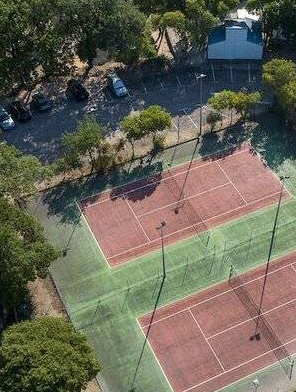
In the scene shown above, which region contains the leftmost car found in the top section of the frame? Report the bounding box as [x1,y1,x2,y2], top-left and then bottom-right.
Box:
[0,106,15,131]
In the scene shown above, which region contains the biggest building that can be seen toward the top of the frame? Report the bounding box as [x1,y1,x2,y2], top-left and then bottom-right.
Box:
[208,18,264,59]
